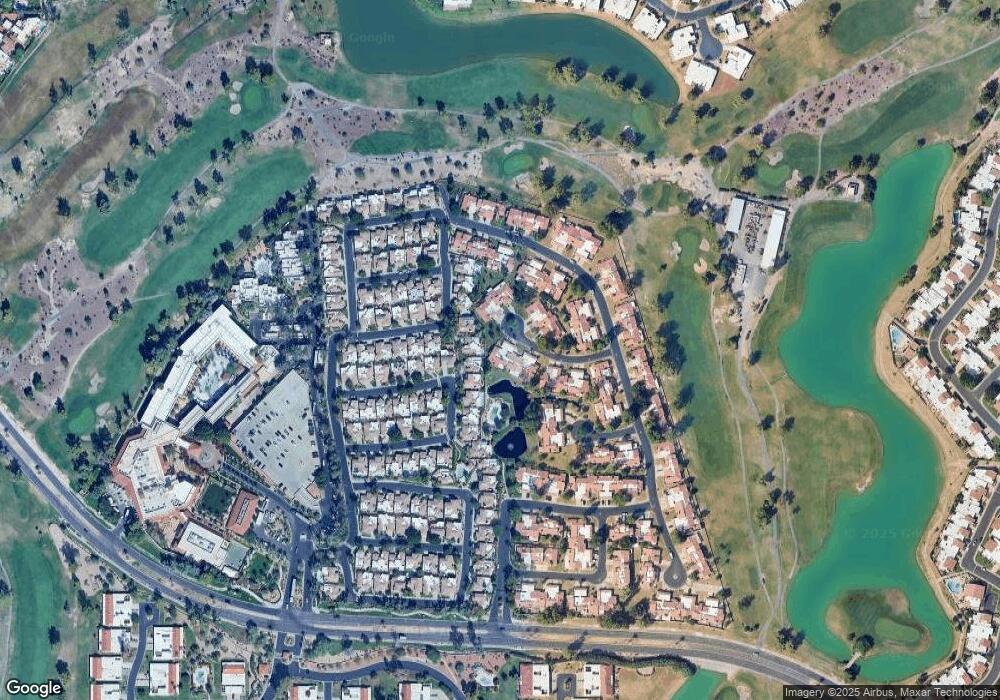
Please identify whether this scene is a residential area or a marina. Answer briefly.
residential area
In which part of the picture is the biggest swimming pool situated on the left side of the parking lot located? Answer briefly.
left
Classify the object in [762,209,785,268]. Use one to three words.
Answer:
shed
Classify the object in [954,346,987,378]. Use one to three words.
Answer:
house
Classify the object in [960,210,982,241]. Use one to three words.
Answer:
house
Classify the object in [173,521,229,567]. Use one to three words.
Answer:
building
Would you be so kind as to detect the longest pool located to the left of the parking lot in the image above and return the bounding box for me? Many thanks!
[191,350,230,404]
